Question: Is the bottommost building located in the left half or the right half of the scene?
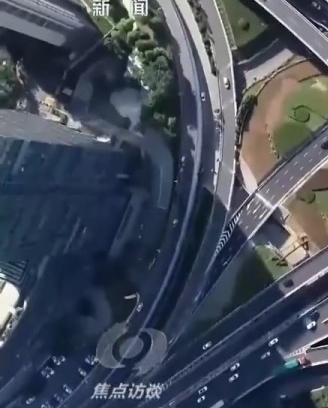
left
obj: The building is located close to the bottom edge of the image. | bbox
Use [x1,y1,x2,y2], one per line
[16,304,142,389]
